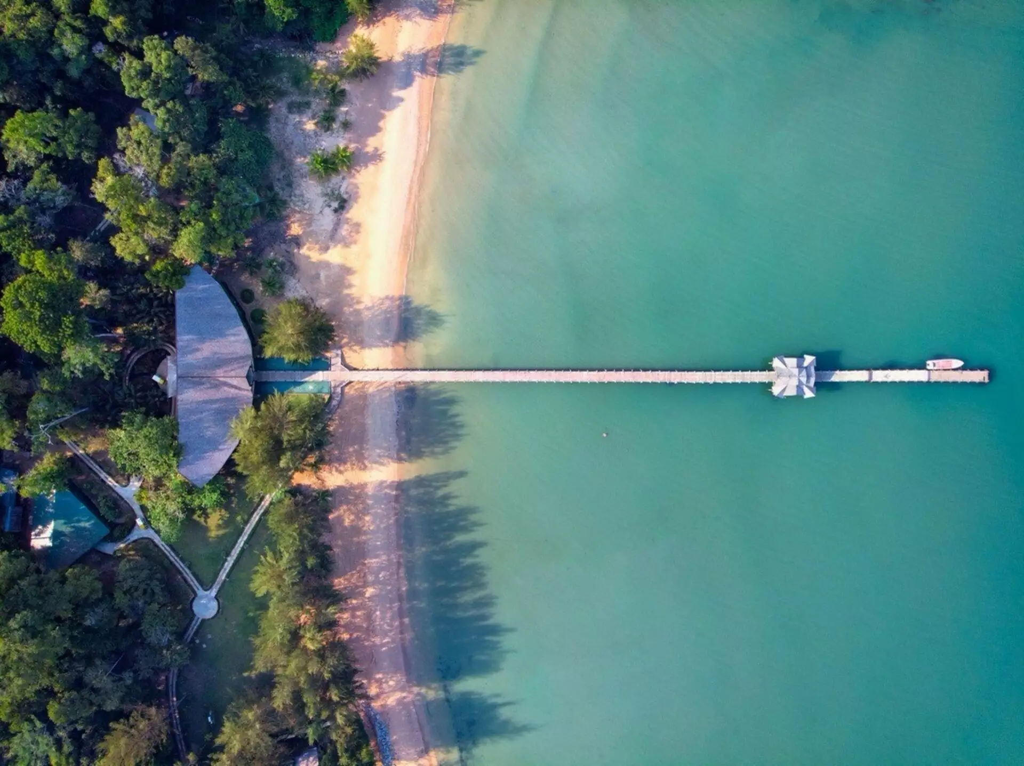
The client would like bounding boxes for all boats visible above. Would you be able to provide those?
[925,359,964,371]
